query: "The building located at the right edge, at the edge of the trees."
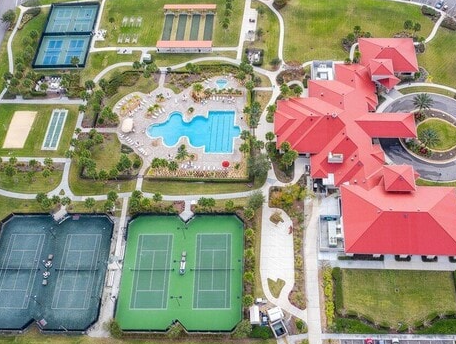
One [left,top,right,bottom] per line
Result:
[276,37,456,261]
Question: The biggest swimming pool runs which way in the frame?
horizontally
